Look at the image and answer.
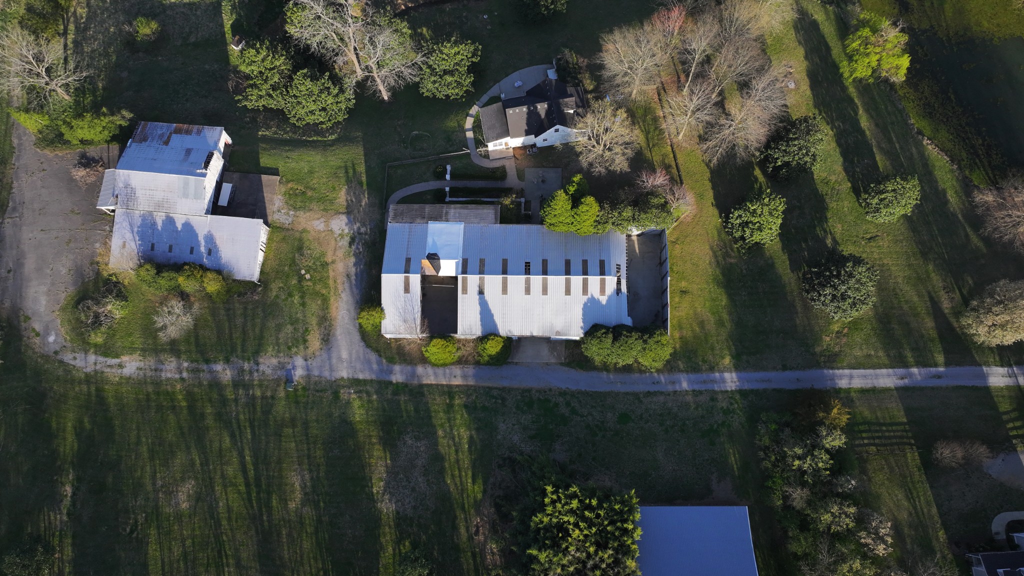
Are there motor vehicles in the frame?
No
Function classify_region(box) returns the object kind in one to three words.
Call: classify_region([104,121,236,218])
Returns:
barn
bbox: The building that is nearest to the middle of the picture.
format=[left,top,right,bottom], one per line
[381,204,635,343]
